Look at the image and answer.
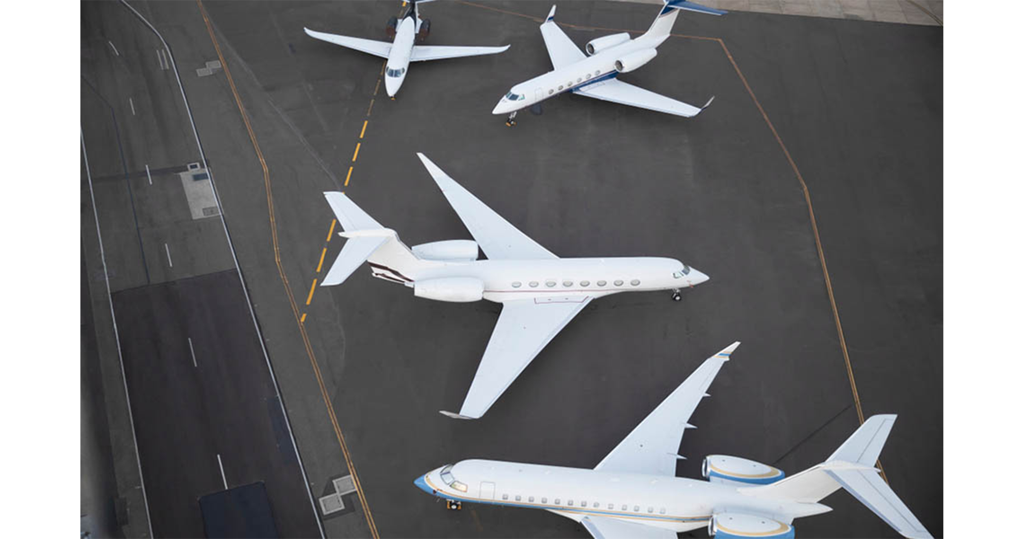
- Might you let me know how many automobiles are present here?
0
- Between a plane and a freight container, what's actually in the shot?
plane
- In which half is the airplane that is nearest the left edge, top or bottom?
top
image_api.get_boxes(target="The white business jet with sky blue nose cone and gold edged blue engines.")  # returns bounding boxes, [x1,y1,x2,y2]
[413,342,934,539]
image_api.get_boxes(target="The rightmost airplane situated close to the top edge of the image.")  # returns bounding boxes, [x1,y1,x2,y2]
[492,0,729,125]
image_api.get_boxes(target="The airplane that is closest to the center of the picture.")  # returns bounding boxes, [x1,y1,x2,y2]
[321,152,710,421]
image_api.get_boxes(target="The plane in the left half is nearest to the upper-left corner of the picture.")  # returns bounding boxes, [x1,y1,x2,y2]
[305,0,511,100]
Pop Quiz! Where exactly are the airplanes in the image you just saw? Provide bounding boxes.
[492,0,729,125]
[305,0,511,100]
[413,342,934,539]
[321,152,710,421]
